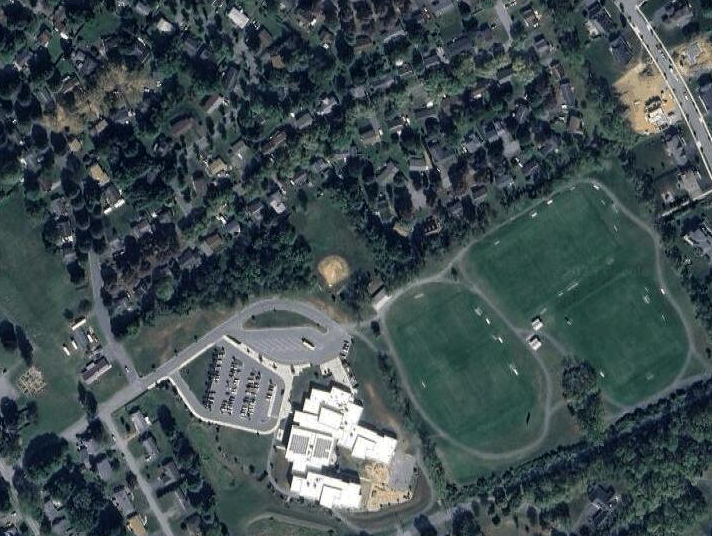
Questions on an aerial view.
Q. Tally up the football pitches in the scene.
3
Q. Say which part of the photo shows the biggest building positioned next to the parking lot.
bottom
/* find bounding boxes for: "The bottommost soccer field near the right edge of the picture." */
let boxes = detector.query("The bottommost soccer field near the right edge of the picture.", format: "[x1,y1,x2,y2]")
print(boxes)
[539,265,686,398]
